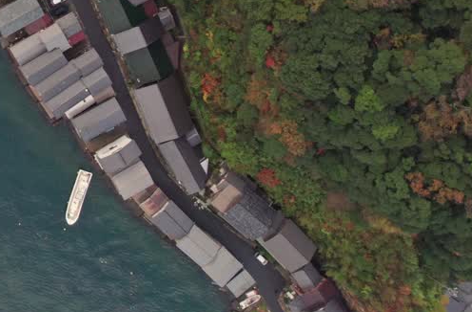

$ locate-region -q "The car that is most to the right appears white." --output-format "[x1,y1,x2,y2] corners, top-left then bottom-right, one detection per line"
[254,252,268,268]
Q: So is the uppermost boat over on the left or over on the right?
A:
left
